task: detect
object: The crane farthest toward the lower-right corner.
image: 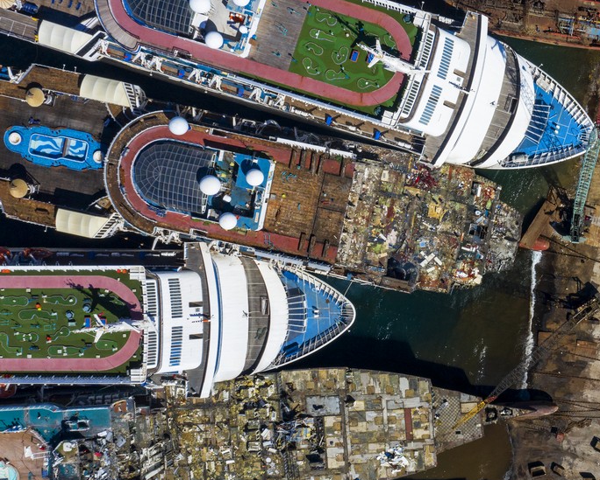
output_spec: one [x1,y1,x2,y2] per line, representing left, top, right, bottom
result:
[450,285,600,431]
